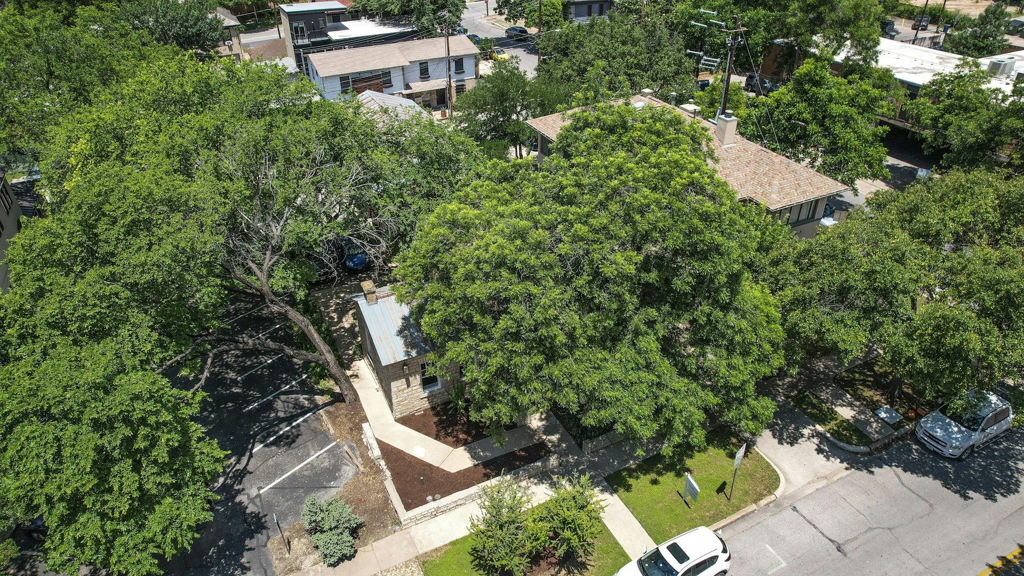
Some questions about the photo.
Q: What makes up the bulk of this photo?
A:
trees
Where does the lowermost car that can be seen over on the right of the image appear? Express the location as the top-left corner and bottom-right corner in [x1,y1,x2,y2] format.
[622,529,738,576]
